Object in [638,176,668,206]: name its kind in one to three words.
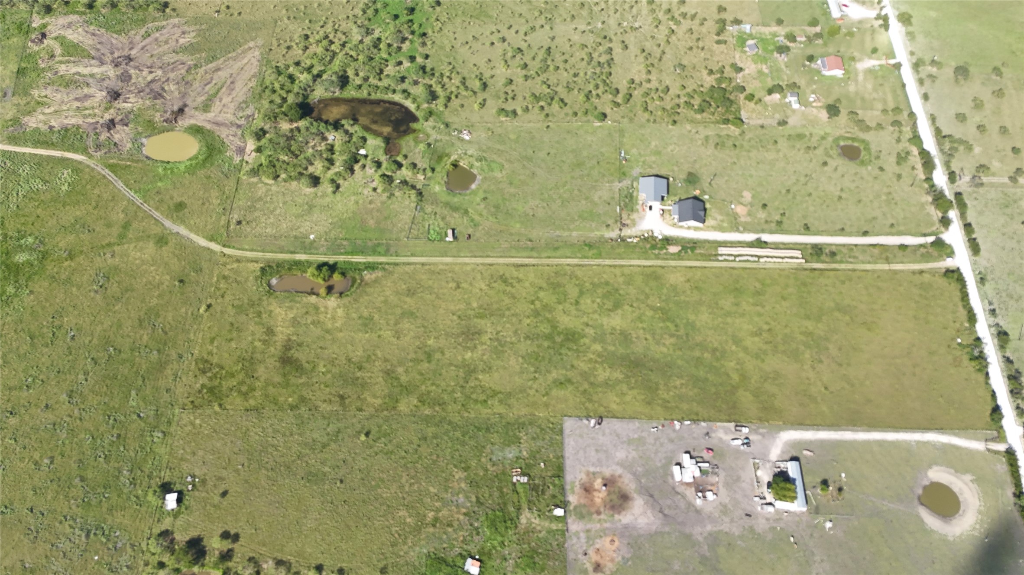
house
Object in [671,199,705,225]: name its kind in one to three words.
house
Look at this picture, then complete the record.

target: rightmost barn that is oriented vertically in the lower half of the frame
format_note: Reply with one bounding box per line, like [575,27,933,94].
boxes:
[786,462,806,512]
